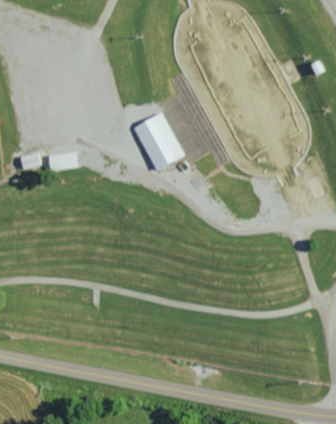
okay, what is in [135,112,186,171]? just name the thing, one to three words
building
